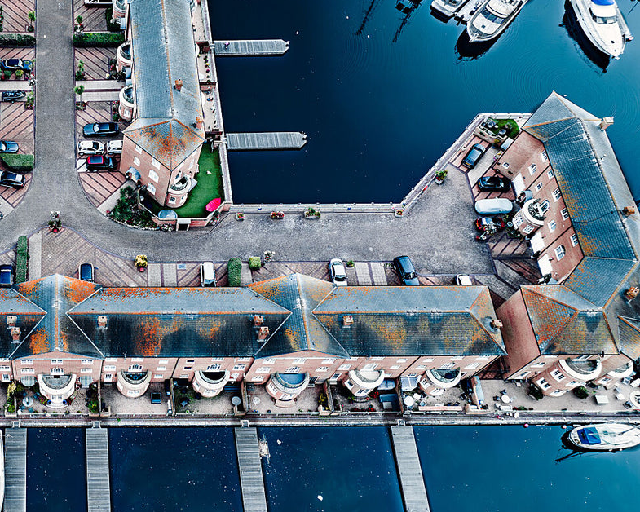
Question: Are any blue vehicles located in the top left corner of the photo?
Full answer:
Yes, in the top left corner of the photo there is a blue vehicle.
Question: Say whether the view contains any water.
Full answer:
Yes, there's water in this view.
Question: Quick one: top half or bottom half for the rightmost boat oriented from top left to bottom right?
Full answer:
It is in the top half that the rightmost boat oriented from top left to bottom right appears.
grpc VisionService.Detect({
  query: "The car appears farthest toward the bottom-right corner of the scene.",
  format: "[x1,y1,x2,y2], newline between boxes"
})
[452,273,474,285]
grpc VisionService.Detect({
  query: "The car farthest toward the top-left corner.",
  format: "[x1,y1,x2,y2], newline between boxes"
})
[3,58,32,72]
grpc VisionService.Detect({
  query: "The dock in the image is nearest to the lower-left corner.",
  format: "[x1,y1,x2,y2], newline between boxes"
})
[2,414,26,512]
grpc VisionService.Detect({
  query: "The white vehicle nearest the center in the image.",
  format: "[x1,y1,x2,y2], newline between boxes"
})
[327,259,349,286]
